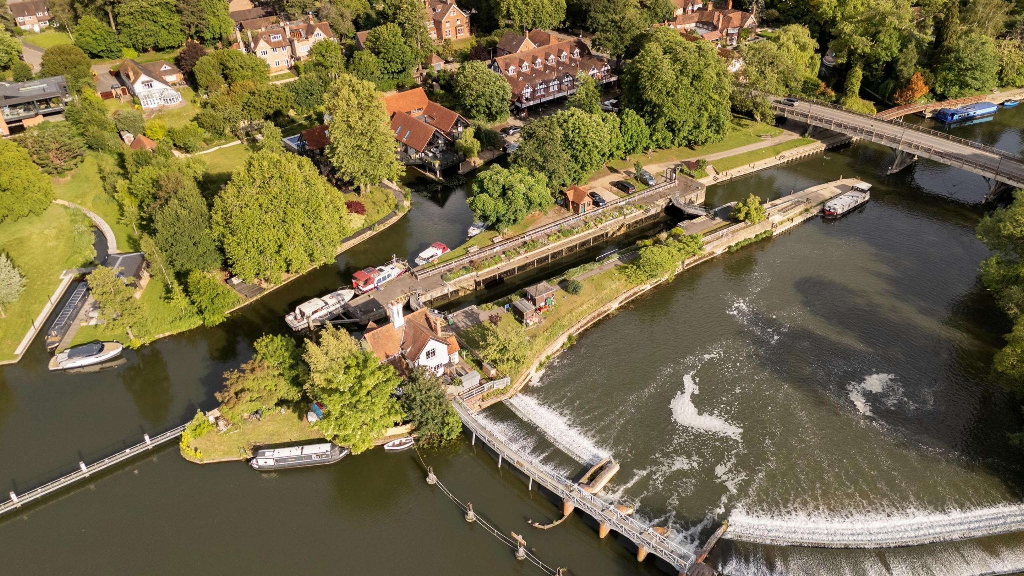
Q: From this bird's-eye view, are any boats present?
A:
Yes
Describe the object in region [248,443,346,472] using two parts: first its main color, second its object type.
white boat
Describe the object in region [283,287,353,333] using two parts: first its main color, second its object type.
white boat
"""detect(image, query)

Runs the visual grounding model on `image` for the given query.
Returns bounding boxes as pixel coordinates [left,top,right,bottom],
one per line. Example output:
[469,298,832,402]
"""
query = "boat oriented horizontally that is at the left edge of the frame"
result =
[45,341,120,372]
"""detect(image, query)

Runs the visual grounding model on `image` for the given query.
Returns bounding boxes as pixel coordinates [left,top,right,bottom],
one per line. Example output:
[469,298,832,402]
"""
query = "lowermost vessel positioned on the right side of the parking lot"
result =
[822,180,879,217]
